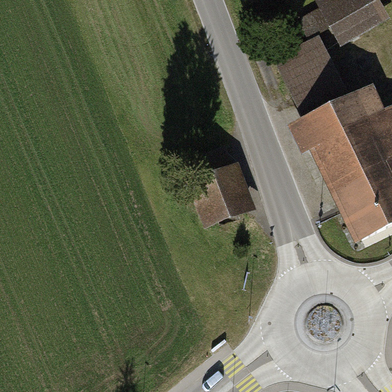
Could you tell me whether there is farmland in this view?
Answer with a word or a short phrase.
Yes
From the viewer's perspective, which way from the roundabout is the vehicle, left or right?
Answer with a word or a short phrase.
to its left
